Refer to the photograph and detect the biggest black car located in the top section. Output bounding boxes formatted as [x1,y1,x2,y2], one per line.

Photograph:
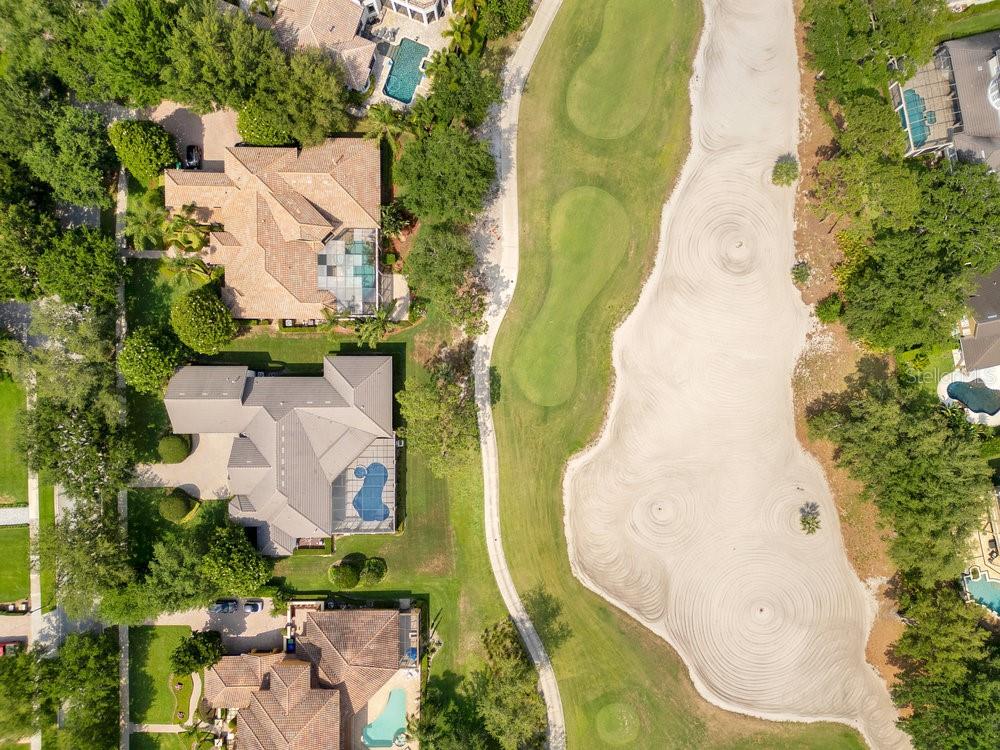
[188,145,202,171]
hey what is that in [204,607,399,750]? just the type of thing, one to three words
house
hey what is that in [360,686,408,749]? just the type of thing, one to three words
swimming pool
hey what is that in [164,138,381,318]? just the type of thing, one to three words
house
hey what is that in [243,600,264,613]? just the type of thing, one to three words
vehicle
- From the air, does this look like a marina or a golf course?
golf course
